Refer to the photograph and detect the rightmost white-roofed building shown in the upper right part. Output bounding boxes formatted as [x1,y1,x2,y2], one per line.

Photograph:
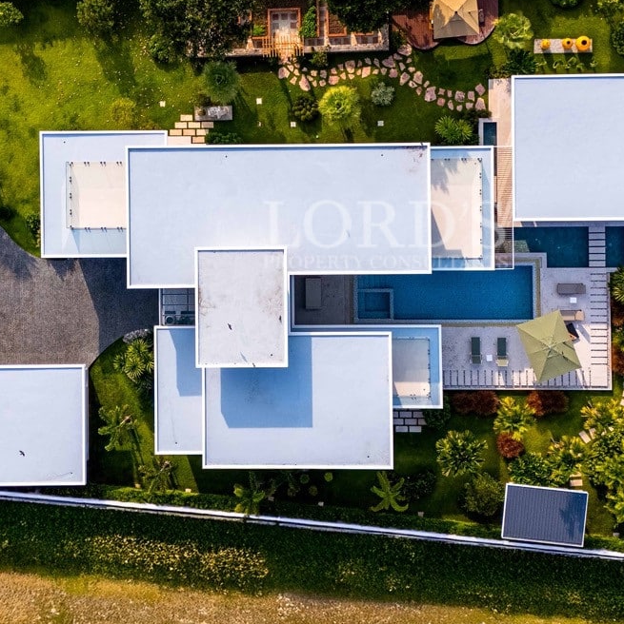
[511,73,624,221]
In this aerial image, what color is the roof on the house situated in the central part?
white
